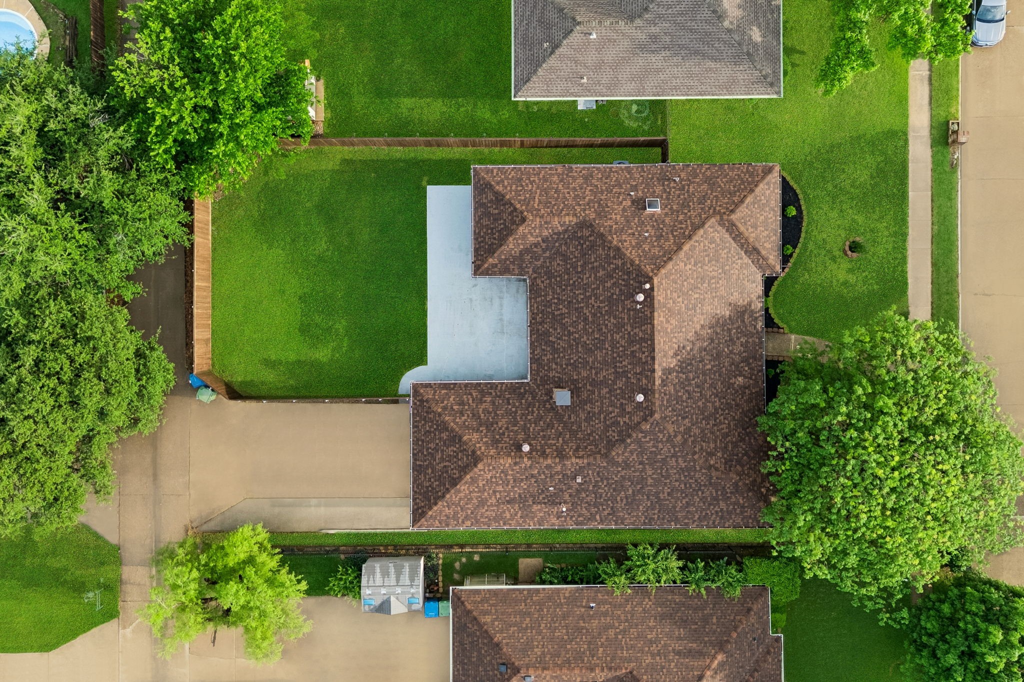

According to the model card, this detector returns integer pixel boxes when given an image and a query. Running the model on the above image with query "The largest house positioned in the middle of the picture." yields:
[406,160,785,532]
